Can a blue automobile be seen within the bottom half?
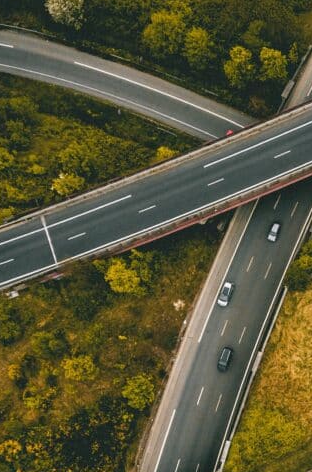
No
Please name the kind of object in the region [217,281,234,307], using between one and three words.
car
